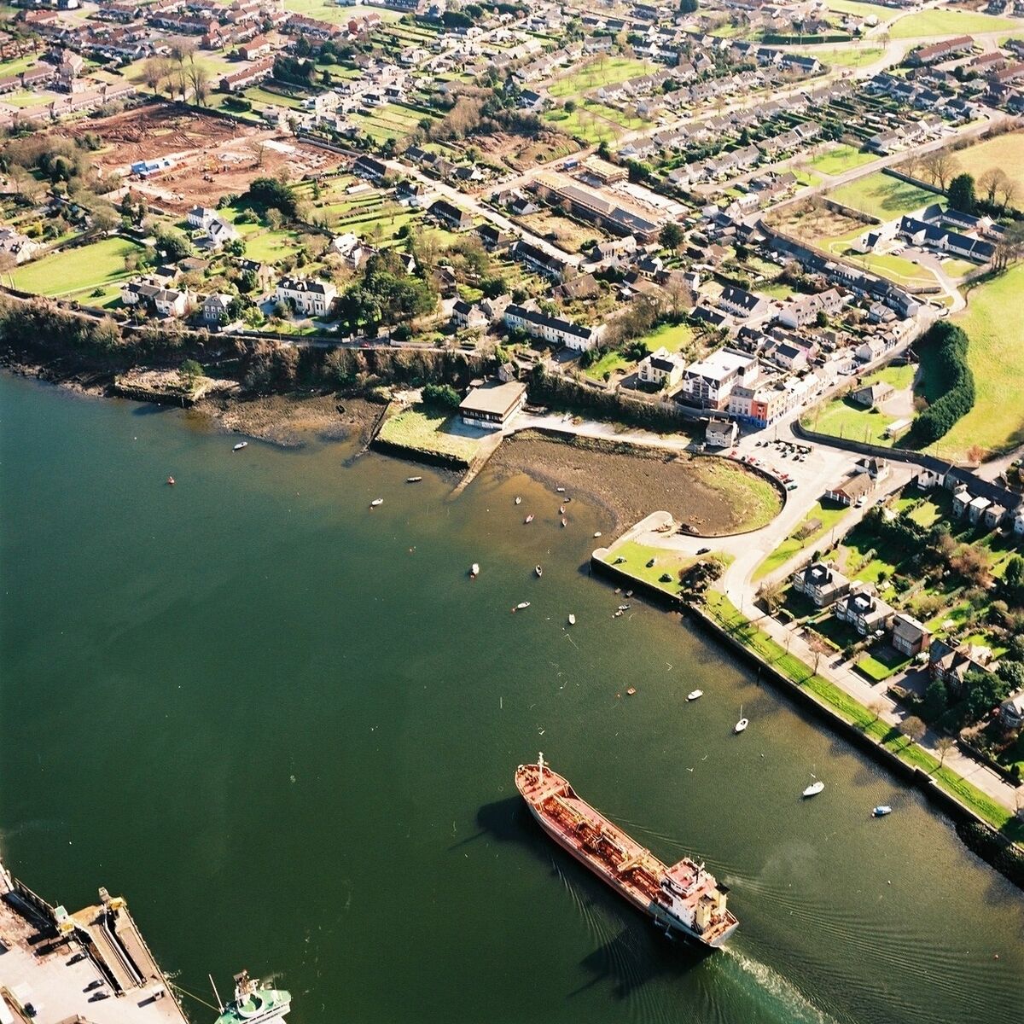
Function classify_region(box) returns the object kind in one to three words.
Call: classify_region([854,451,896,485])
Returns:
house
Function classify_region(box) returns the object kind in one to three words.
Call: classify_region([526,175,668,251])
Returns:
building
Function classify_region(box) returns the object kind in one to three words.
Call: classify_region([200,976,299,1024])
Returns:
boat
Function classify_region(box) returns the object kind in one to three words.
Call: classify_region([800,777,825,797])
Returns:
boat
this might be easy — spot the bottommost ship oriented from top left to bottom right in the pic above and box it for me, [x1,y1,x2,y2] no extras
[513,757,743,962]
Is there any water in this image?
Yes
